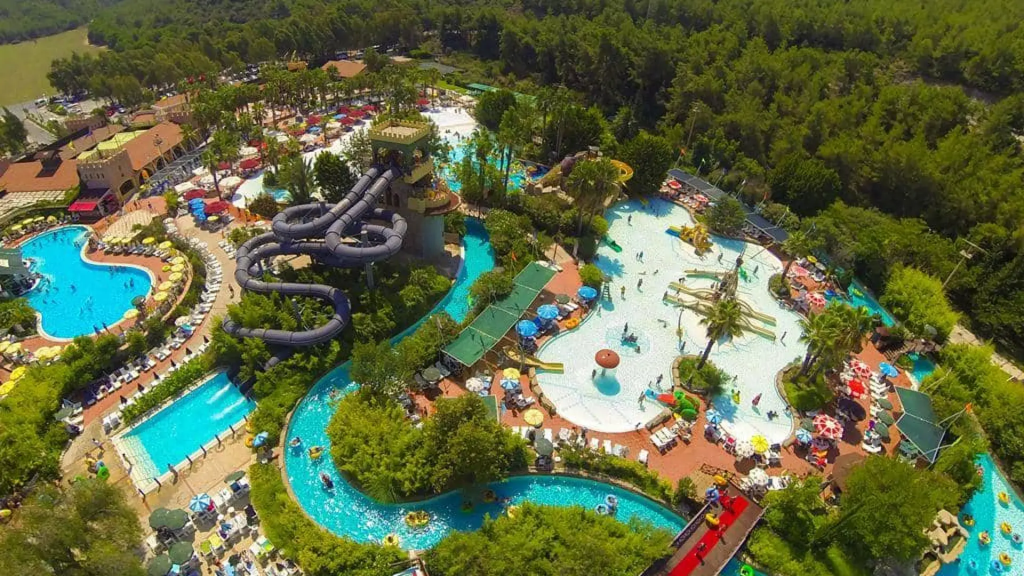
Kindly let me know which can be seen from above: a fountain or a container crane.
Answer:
fountain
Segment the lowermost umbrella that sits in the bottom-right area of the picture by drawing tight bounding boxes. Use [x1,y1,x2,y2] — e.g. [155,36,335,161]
[745,468,769,493]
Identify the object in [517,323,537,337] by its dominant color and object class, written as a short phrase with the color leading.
blue umbrella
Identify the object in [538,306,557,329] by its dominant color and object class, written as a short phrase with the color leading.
blue umbrella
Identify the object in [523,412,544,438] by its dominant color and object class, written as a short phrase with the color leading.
yellow umbrella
